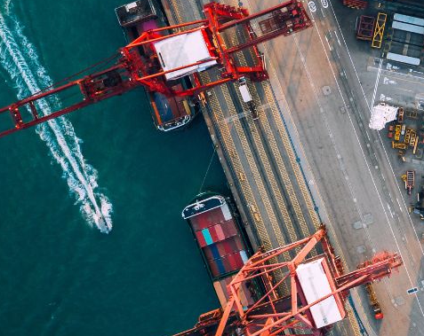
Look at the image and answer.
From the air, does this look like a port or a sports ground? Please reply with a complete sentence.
This image shows a port.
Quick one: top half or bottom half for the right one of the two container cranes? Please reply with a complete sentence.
It is in the bottom half that the right one of the two container cranes appears.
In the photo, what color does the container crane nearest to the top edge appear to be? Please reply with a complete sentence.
The container crane nearest to the top edge is red.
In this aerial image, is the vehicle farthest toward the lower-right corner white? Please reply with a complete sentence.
No, the vehicle farthest toward the lower-right corner is actually red.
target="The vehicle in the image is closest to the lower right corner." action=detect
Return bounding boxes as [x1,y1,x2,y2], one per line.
[364,281,384,318]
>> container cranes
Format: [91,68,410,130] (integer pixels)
[0,0,316,138]
[158,214,403,336]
